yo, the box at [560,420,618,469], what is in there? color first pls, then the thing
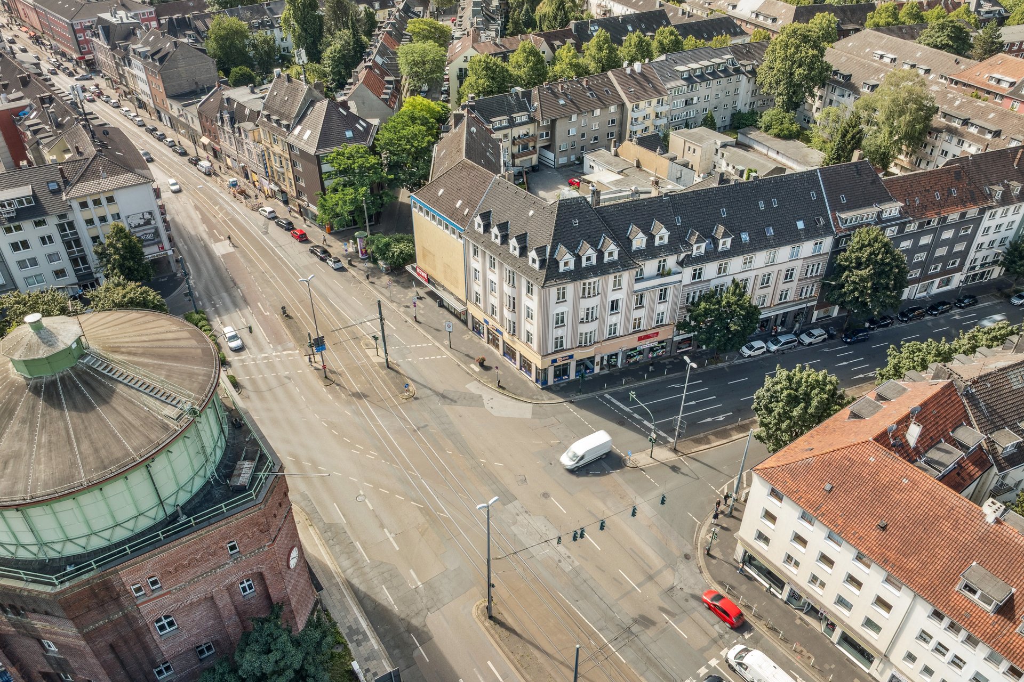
white van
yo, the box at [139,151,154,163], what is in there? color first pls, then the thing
gray vehicle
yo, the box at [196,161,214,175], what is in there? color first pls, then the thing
white car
